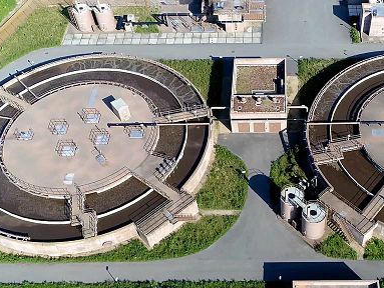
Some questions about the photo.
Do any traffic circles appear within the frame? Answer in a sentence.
No, I find no traffic circle anywhere in the image.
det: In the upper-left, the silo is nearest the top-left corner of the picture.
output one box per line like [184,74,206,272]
[72,0,98,30]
